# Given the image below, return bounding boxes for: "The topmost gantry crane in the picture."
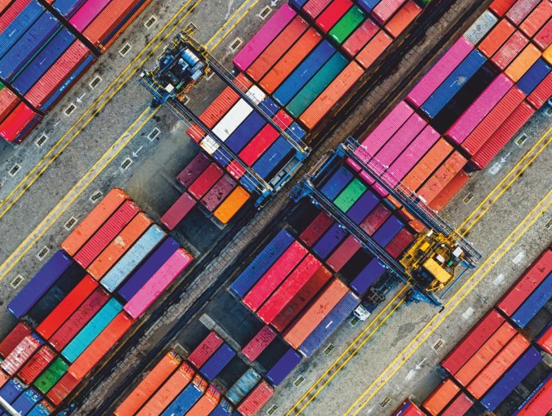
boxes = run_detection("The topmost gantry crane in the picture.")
[130,21,322,219]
